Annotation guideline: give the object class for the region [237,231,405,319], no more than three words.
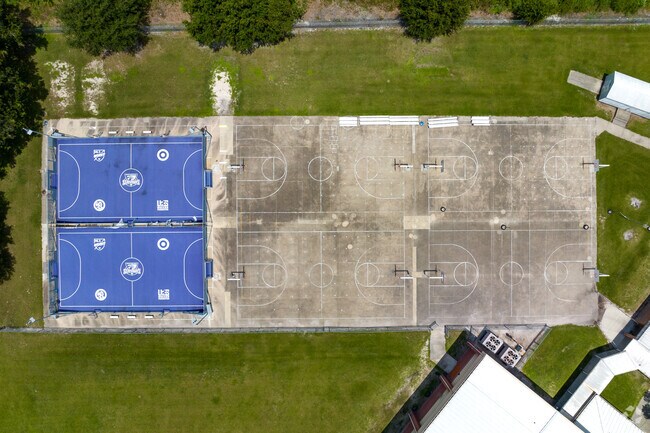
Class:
basketball court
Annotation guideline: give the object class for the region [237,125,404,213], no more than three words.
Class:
basketball court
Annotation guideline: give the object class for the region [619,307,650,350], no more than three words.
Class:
building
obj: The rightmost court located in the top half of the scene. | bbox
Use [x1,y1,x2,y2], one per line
[428,124,592,211]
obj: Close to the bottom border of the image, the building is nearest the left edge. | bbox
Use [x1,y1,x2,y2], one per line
[404,343,586,433]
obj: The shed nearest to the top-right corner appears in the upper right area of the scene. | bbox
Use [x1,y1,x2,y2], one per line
[600,70,650,110]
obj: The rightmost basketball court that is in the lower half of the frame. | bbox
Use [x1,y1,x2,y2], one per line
[429,230,592,317]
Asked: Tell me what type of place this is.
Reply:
sports ground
